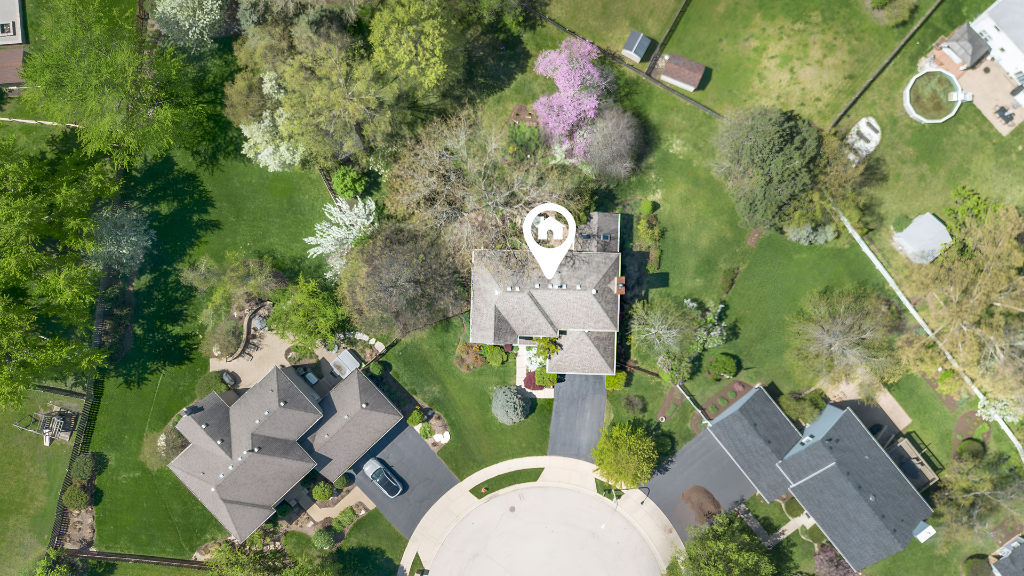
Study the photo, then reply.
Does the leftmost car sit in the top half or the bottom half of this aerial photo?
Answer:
bottom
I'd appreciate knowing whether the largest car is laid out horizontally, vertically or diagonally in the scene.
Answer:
diagonally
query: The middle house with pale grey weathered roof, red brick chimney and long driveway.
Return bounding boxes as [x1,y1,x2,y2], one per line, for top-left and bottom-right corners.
[470,212,625,375]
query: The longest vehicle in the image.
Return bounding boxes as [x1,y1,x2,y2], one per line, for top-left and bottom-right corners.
[364,455,402,501]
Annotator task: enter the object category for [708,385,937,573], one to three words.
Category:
house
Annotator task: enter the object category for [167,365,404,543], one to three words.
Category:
house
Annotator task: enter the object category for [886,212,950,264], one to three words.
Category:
building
